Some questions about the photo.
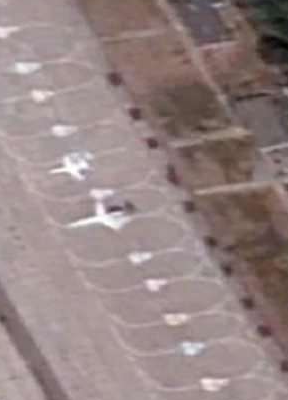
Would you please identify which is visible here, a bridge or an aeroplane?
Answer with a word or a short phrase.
aeroplane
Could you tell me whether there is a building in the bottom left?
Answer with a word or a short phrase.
No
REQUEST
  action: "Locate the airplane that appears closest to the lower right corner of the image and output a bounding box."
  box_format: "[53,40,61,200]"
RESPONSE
[198,378,228,391]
